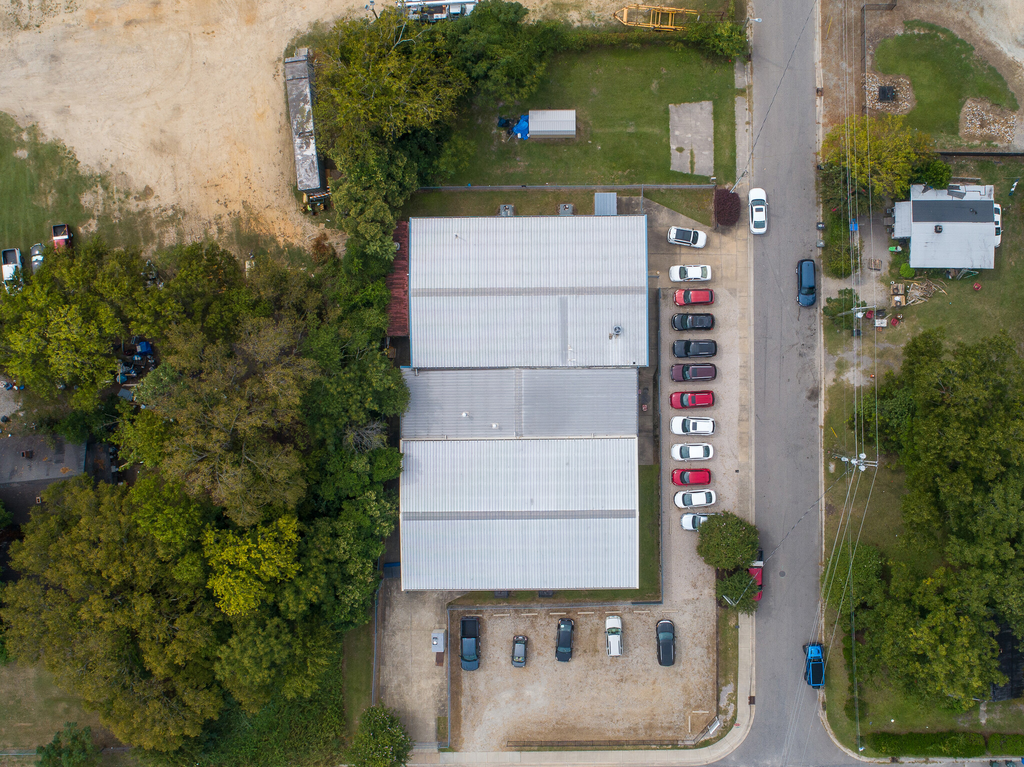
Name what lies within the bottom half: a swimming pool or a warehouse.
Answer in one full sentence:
There is a warehouse within the bottom half.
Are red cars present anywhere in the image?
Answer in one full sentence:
Yes, a red car is visible in the scene.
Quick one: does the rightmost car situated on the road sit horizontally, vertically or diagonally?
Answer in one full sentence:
In this picture, the rightmost car situated on the road lies vertically.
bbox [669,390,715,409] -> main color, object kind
red car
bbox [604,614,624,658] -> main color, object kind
white car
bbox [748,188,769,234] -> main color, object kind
white car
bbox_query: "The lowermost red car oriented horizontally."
[671,468,711,487]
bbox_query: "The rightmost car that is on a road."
[795,259,817,306]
